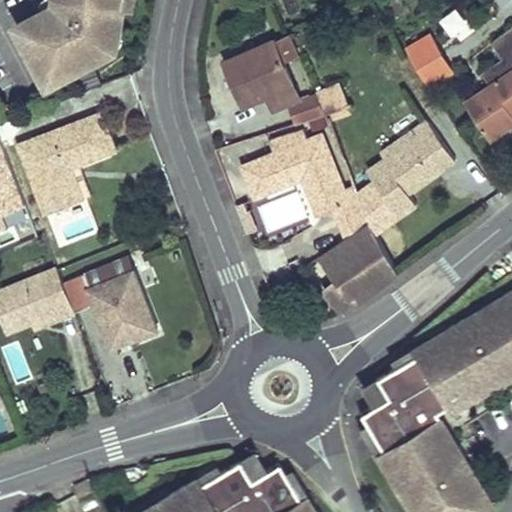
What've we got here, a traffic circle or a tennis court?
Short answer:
traffic circle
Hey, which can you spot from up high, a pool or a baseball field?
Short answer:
pool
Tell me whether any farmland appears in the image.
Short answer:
No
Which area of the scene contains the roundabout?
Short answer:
bottom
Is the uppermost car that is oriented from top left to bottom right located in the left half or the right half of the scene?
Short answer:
right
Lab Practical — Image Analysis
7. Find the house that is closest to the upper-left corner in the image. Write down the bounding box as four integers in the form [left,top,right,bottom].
[6,0,134,96]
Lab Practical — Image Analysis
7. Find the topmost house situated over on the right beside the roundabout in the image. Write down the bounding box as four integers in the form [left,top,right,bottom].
[238,122,454,240]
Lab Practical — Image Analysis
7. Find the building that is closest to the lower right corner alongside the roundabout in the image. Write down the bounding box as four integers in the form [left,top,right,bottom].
[378,423,496,512]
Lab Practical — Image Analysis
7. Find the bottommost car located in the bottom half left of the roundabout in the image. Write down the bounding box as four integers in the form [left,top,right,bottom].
[123,356,136,377]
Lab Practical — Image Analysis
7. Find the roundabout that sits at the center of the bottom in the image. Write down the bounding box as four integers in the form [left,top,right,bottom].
[190,320,368,474]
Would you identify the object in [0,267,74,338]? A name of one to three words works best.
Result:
house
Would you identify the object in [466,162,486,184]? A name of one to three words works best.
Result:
car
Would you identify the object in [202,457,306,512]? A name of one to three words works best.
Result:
building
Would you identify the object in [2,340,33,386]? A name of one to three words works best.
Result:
swimming pool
